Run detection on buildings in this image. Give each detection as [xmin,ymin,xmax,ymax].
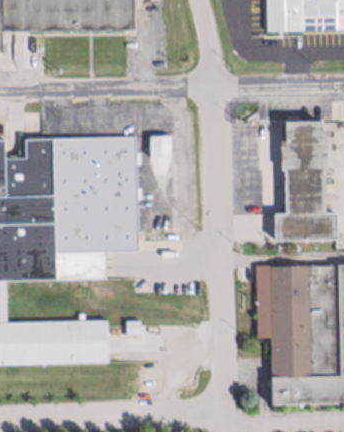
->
[274,120,337,242]
[0,136,142,322]
[256,264,344,404]
[264,0,344,38]
[0,312,110,367]
[0,0,136,34]
[126,319,142,334]
[150,134,172,158]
